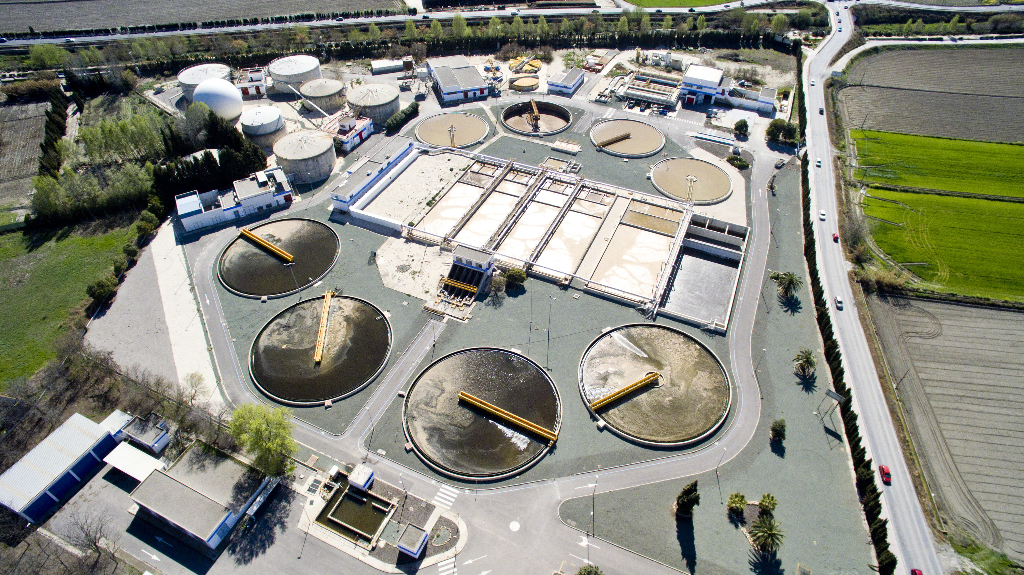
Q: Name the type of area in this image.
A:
industrial area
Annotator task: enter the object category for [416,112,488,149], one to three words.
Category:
storage tank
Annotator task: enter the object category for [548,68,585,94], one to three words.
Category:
building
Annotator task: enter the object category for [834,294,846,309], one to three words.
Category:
vehicle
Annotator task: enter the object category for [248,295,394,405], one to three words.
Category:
storage tank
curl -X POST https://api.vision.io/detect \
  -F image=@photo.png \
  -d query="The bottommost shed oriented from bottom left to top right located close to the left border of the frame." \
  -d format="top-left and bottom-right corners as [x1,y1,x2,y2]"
[0,412,119,524]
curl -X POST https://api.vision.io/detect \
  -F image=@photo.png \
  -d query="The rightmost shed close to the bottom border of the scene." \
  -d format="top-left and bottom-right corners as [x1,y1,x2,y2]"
[397,523,430,559]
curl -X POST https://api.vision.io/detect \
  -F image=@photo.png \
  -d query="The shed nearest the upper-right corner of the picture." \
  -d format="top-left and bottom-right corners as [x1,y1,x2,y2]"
[754,89,777,112]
